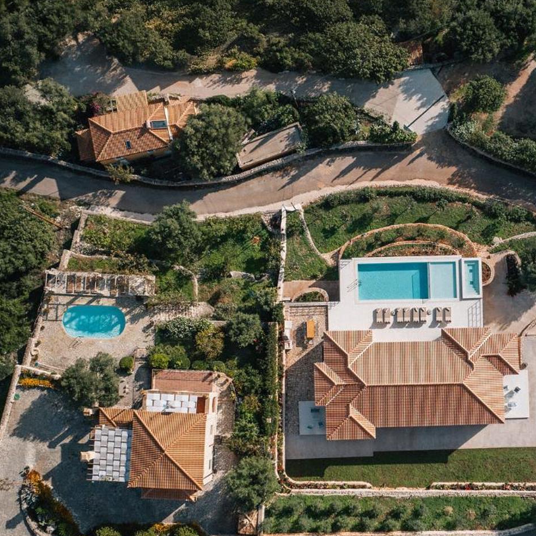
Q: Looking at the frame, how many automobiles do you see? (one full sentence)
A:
No automobiles are visible.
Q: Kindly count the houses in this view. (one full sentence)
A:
Looking from above, you can make out 3 houses.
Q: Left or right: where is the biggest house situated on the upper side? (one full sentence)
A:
It is on the left.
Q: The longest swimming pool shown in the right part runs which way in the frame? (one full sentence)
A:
The longest swimming pool shown in the right part is laid out from left to right.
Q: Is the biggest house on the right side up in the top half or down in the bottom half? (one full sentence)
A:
The biggest house on the right side sits in the bottom half of the picture.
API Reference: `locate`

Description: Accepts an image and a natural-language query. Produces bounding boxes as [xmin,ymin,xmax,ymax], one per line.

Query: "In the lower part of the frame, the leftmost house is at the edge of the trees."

[78,368,238,502]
